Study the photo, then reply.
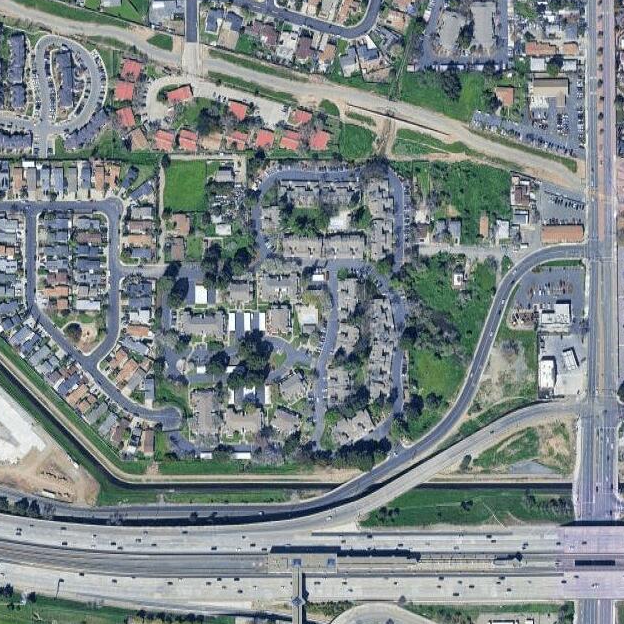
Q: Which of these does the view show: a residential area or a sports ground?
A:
residential area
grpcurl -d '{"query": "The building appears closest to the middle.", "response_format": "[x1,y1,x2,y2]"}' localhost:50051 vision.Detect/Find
[296,302,318,324]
